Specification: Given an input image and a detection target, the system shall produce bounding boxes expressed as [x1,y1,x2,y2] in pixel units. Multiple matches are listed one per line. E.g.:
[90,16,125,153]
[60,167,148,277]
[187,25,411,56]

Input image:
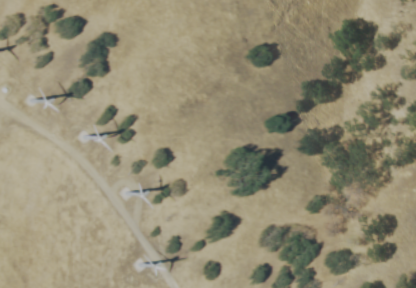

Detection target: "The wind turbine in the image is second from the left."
[78,124,107,148]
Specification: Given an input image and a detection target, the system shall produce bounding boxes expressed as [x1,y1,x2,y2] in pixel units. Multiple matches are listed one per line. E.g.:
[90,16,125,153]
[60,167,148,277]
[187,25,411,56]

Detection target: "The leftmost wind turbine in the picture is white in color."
[25,86,52,108]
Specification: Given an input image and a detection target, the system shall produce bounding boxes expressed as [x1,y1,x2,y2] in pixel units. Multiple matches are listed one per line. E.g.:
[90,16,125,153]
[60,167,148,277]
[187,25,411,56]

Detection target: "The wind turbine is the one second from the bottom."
[120,183,149,207]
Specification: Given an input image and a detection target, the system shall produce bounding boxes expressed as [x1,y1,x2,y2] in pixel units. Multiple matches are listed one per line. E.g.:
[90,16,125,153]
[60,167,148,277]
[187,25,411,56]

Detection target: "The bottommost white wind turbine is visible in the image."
[134,255,162,276]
